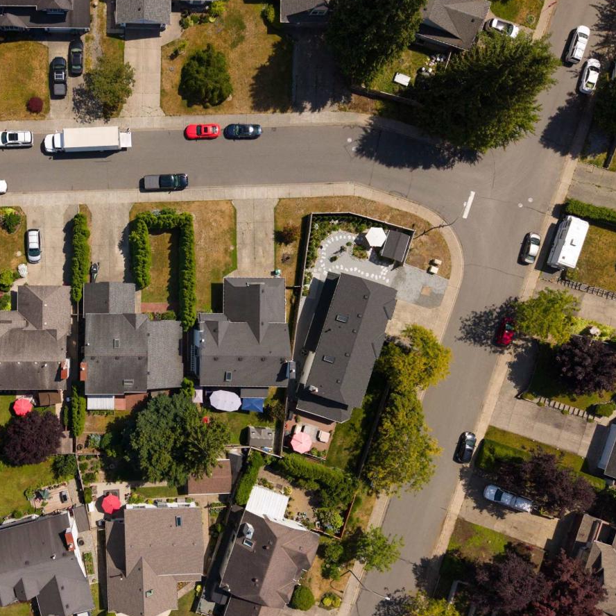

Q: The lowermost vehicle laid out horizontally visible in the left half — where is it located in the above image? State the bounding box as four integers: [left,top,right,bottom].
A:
[144,174,188,191]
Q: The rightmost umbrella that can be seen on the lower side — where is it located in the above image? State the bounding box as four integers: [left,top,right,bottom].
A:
[291,429,312,451]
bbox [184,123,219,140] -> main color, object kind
red car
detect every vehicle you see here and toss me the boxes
[563,25,589,68]
[50,57,67,100]
[577,60,600,95]
[0,181,8,194]
[184,123,219,140]
[68,41,85,77]
[455,429,476,463]
[92,265,99,280]
[224,123,260,140]
[25,228,41,264]
[544,214,586,269]
[519,231,541,266]
[0,130,33,147]
[491,315,514,349]
[493,17,518,34]
[43,126,132,153]
[144,174,188,191]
